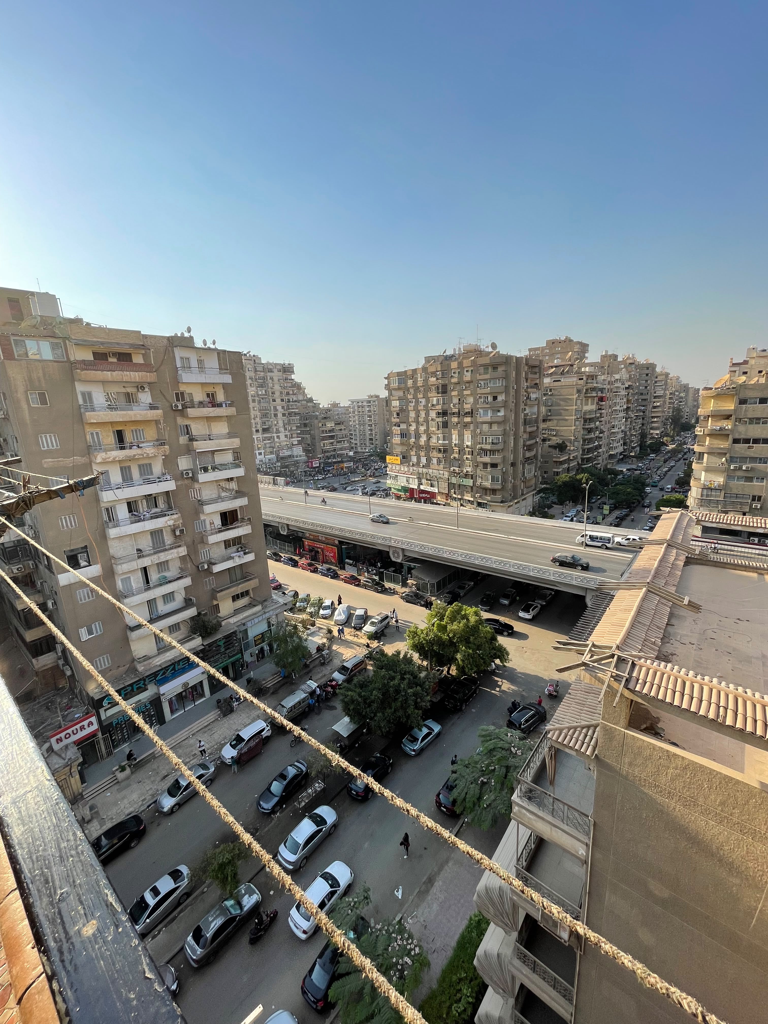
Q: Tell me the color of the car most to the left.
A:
black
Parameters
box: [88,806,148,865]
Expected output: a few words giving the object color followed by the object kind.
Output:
black car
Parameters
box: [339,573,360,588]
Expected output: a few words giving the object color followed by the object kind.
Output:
red car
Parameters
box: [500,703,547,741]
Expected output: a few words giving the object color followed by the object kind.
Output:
black car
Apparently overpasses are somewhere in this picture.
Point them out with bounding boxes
[259,477,763,610]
